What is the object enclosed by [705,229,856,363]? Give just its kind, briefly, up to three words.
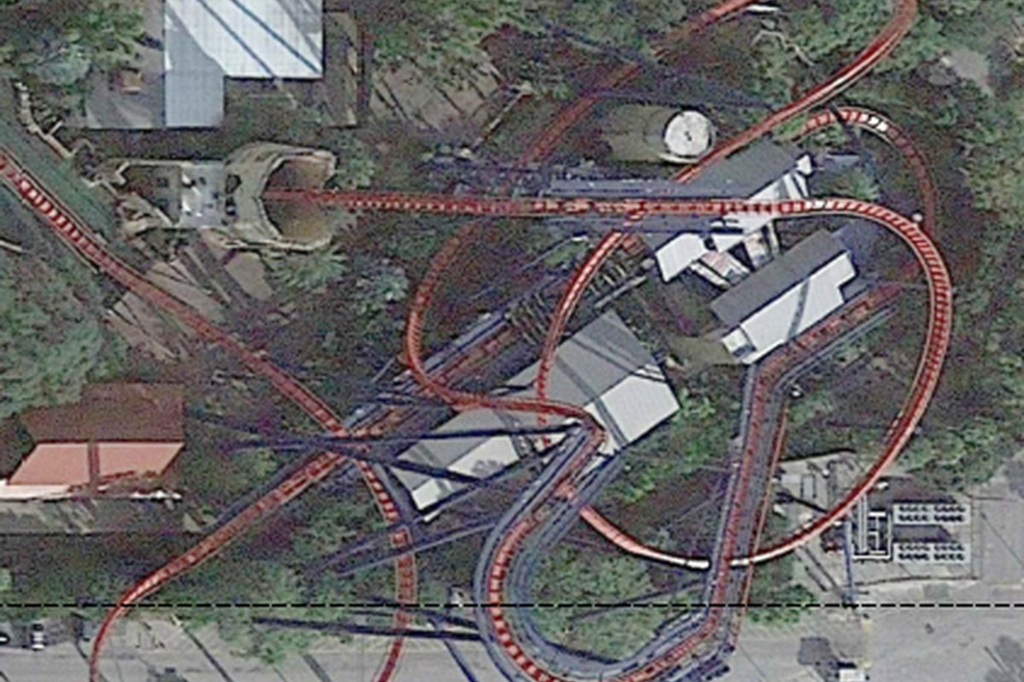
building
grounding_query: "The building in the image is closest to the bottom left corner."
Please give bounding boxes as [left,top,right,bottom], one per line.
[0,384,184,498]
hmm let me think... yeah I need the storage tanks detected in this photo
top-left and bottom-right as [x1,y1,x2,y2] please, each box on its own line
[605,105,713,166]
